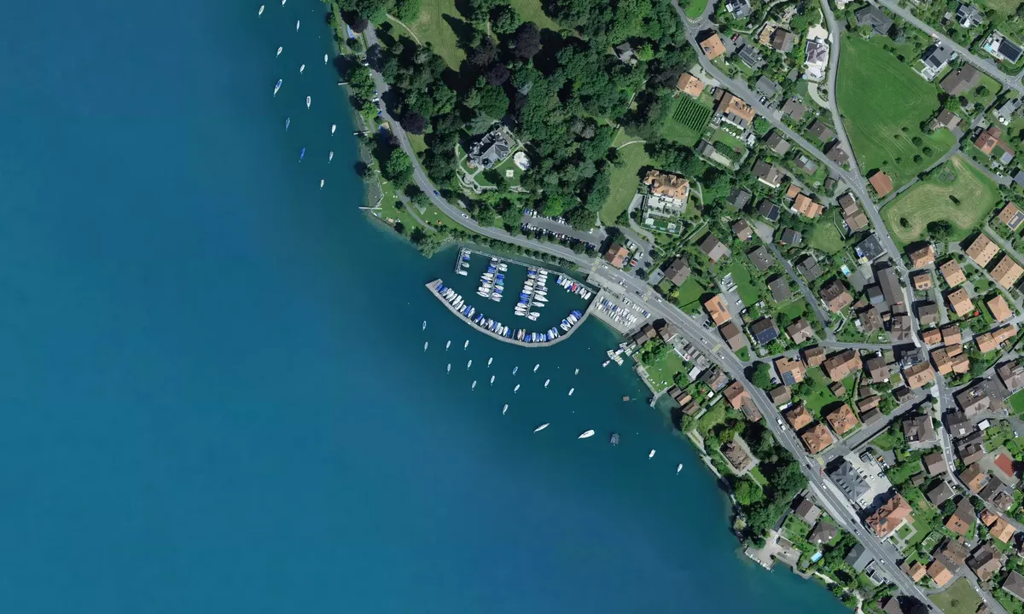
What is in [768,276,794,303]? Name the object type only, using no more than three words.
house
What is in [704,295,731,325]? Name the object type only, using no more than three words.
house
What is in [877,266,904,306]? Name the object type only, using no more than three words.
barn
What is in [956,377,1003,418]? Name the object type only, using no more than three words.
building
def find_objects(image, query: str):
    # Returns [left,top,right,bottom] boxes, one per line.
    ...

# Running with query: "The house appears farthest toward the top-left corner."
[468,128,516,167]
